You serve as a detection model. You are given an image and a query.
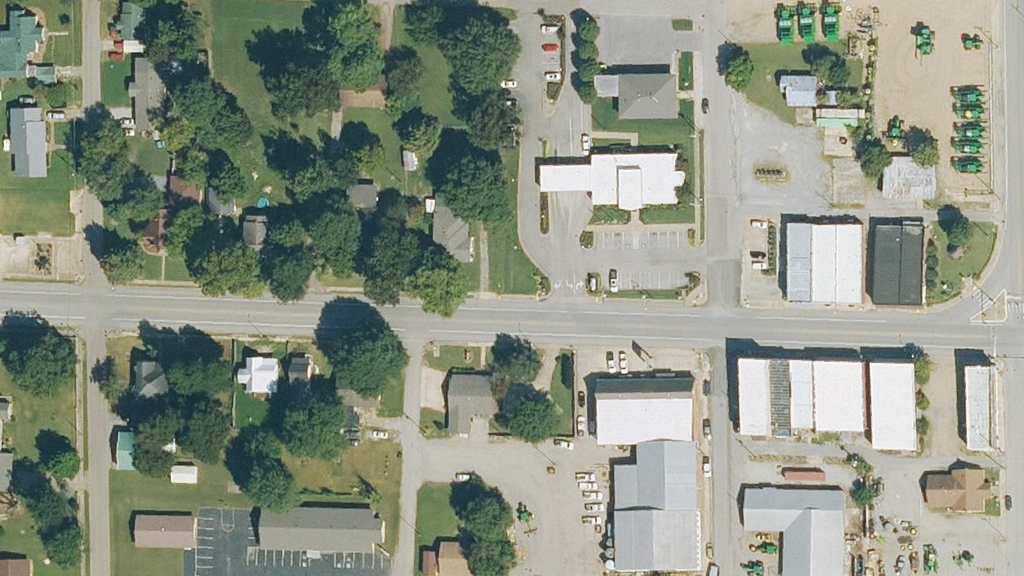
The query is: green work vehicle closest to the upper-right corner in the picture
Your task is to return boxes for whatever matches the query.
[964,37,982,49]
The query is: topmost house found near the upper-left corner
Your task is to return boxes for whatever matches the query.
[109,1,144,38]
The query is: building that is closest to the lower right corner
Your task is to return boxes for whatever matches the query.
[926,469,990,514]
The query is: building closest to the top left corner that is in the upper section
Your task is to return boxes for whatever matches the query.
[0,11,45,76]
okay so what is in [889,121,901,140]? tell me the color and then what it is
green vehicle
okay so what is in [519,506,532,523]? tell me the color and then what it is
green vehicle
